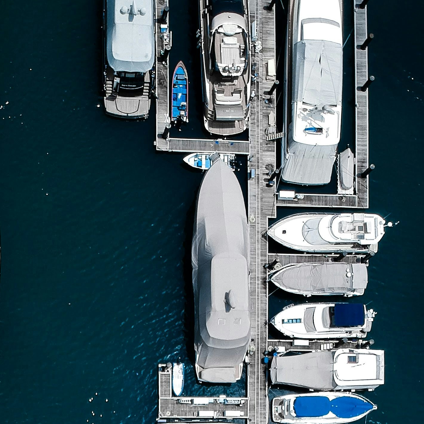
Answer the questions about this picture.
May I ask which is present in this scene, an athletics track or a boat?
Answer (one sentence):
Visible in the photo is a boat.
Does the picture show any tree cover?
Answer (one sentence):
No, tree cover can't be seen anywhere here.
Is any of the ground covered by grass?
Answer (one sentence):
No, the picture contains no grass.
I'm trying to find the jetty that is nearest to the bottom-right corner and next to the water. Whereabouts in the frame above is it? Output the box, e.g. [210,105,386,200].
[268,340,369,359]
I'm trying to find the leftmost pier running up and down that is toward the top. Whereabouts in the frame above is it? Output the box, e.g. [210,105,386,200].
[155,0,169,152]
